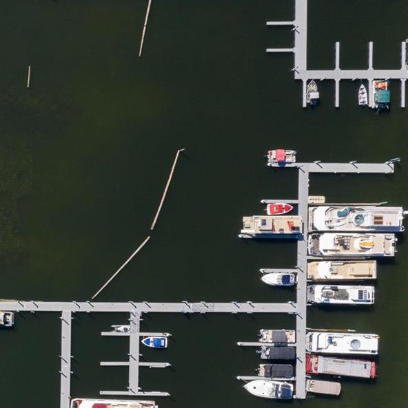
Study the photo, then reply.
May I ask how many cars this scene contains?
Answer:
none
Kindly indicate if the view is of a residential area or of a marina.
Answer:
marina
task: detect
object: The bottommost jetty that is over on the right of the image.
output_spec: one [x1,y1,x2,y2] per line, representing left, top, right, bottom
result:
[236,312,355,399]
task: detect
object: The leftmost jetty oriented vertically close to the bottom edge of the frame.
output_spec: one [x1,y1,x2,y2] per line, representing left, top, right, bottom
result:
[58,311,75,408]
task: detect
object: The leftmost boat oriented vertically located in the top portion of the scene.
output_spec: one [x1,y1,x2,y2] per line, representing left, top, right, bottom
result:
[307,80,320,109]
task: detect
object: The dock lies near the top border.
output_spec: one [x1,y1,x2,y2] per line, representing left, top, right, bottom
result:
[265,0,408,108]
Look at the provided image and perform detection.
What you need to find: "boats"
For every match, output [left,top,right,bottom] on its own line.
[68,397,155,408]
[371,82,392,113]
[252,364,293,377]
[303,379,341,395]
[255,329,294,342]
[300,354,375,378]
[237,215,303,235]
[263,202,293,214]
[261,272,297,285]
[253,347,295,360]
[303,261,378,280]
[109,325,131,332]
[301,330,380,353]
[141,337,167,348]
[307,80,320,109]
[0,311,14,326]
[265,149,297,164]
[242,380,294,398]
[303,233,395,256]
[303,284,376,304]
[304,207,402,231]
[357,84,367,109]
